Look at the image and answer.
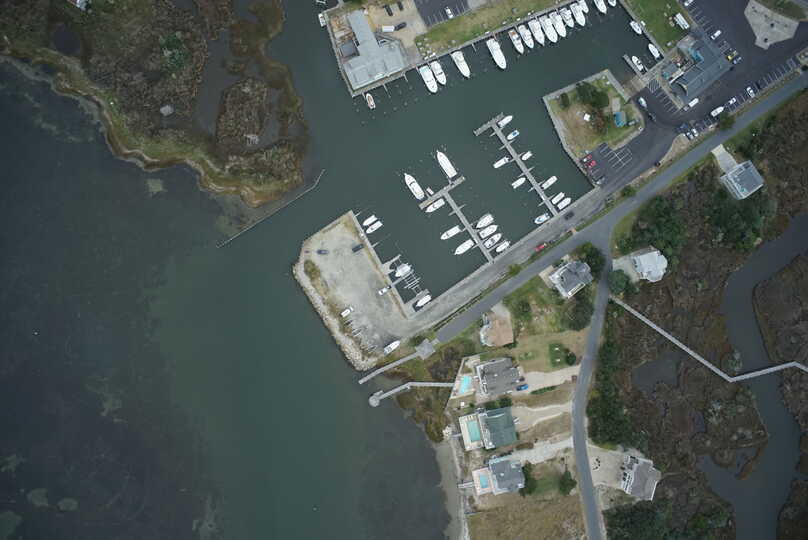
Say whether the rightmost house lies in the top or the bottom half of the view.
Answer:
top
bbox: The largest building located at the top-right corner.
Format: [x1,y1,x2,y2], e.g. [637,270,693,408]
[670,33,733,103]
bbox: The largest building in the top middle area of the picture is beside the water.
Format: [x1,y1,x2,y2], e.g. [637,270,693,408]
[344,6,407,90]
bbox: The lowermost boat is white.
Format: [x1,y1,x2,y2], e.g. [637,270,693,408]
[383,342,400,355]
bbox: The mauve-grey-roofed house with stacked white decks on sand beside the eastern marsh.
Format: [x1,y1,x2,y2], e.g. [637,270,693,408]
[619,454,663,501]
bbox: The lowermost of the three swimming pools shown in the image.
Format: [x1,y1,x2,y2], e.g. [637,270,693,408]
[473,468,495,496]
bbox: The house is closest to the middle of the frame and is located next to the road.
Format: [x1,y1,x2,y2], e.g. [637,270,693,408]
[479,311,516,347]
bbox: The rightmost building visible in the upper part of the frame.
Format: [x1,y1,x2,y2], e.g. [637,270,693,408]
[718,160,766,201]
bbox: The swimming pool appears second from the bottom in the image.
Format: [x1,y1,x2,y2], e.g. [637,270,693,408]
[459,414,484,451]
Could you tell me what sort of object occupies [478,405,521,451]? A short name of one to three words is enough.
house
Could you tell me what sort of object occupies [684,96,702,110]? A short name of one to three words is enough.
vehicle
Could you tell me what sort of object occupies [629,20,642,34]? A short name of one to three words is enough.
boat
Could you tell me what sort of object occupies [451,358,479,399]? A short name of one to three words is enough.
swimming pool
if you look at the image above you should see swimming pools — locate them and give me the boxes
[451,358,479,399]
[473,468,495,496]
[459,414,484,451]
